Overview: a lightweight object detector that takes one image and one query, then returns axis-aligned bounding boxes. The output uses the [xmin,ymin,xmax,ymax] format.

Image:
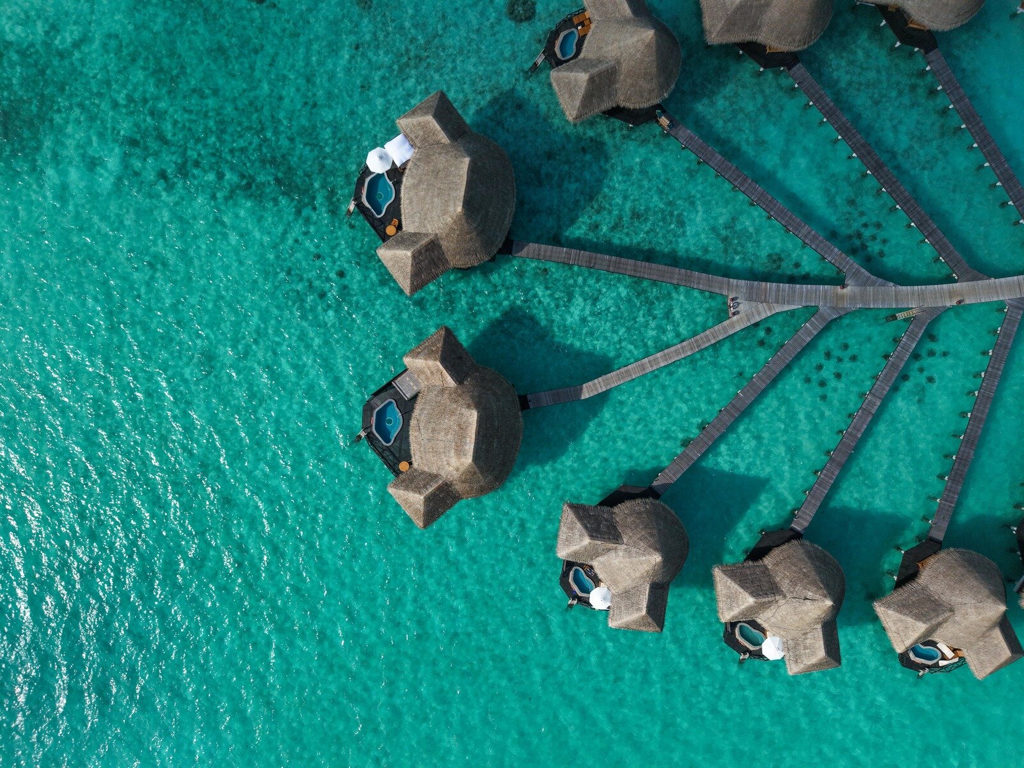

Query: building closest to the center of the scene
[354,326,528,528]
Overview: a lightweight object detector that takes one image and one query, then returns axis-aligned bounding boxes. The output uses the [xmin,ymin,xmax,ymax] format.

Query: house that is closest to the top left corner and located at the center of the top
[345,90,516,297]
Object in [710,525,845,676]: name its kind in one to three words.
house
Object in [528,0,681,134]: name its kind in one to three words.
house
